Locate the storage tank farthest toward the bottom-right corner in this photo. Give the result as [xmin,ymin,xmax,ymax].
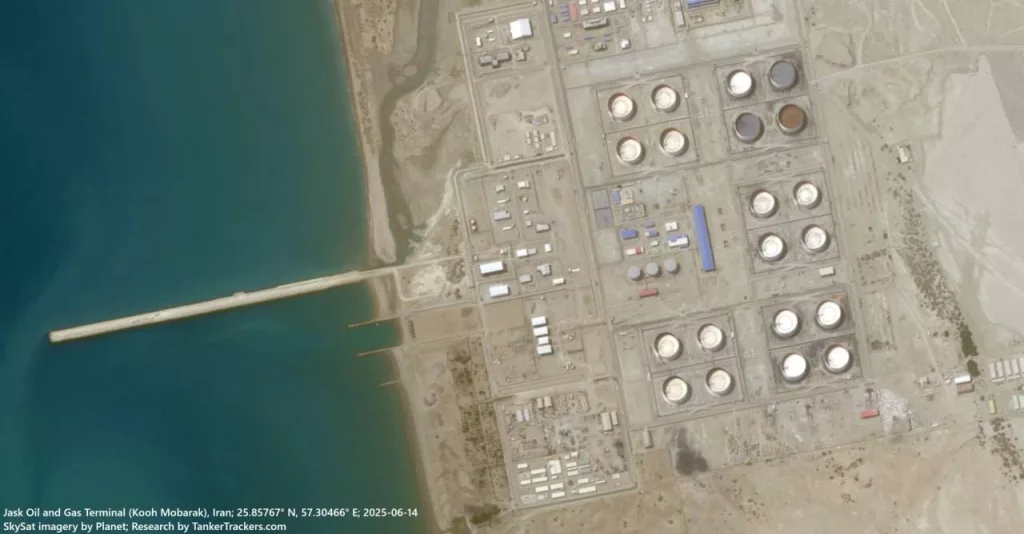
[823,343,851,372]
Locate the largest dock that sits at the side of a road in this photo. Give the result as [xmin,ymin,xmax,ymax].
[48,265,401,342]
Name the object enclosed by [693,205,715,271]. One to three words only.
building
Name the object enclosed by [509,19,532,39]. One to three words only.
building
